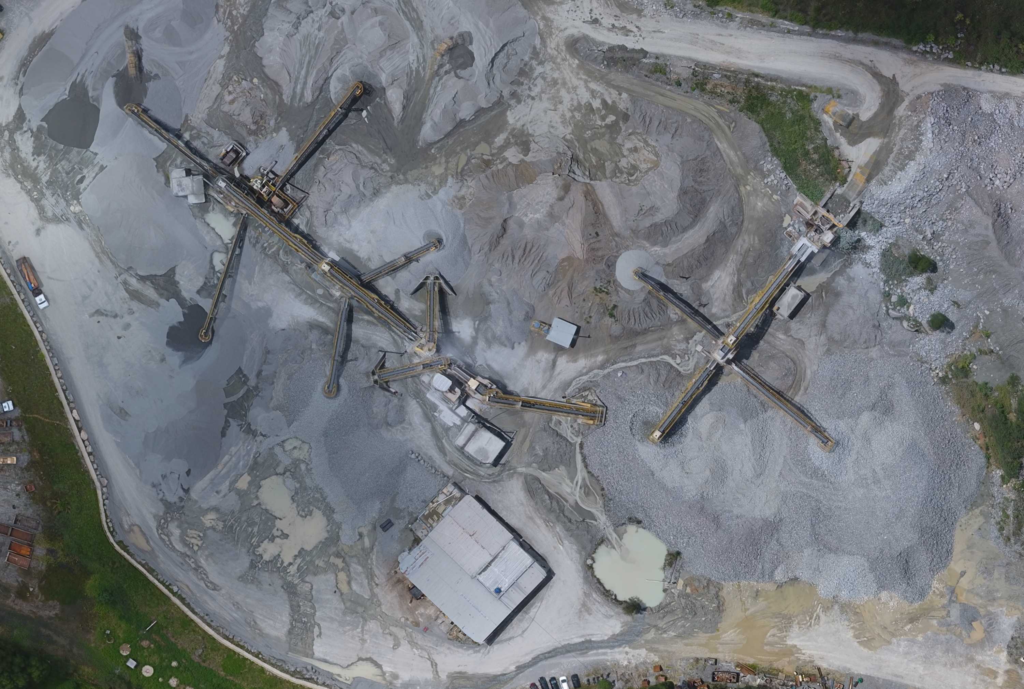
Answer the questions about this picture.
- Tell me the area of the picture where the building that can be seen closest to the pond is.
bottom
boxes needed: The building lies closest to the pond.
[398,495,547,644]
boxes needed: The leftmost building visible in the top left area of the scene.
[171,169,205,203]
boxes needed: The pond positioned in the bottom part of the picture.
[593,524,667,609]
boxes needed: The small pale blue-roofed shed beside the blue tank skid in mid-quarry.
[546,318,577,348]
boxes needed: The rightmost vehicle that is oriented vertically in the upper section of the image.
[126,41,138,72]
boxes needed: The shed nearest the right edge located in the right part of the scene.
[772,284,804,320]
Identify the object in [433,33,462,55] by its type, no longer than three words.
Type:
work vehicle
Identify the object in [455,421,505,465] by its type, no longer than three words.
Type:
building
